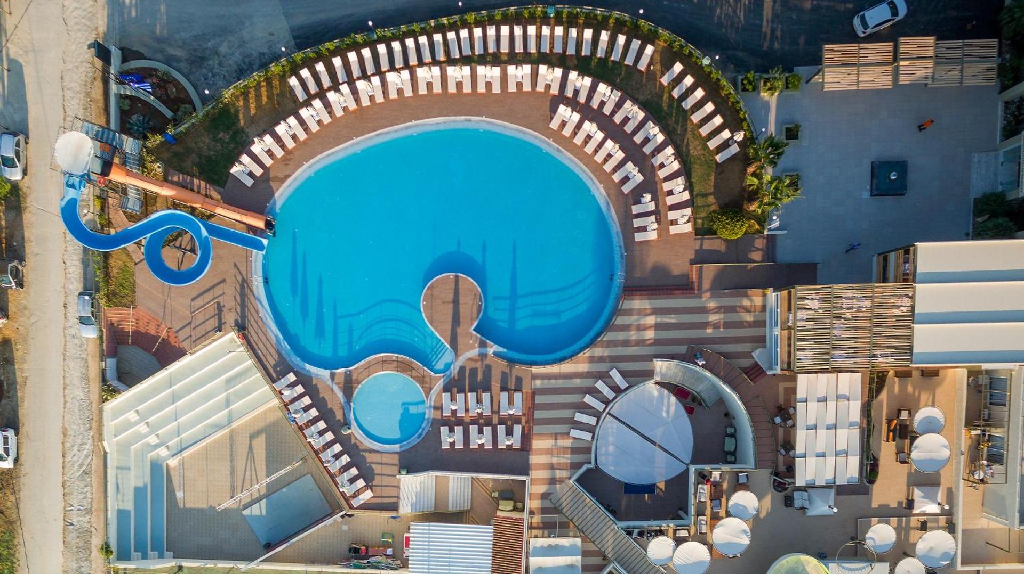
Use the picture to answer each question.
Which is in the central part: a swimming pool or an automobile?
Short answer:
swimming pool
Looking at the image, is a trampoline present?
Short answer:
No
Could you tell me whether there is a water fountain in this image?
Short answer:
Yes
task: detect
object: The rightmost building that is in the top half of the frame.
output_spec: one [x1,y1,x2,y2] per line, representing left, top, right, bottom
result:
[983,138,1024,203]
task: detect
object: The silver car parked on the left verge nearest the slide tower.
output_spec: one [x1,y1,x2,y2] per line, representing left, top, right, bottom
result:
[0,130,29,181]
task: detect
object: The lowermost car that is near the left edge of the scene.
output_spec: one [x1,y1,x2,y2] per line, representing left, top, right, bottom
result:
[0,424,22,471]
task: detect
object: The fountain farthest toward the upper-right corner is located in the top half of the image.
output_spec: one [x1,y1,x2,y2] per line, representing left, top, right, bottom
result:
[872,159,910,195]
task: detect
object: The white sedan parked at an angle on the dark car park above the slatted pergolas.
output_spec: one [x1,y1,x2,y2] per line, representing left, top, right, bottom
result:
[850,0,907,39]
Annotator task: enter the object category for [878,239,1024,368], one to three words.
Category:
building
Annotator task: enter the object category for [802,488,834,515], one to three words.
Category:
umbrella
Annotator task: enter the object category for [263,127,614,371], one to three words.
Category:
swimming pool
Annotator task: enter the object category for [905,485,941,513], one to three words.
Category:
umbrella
